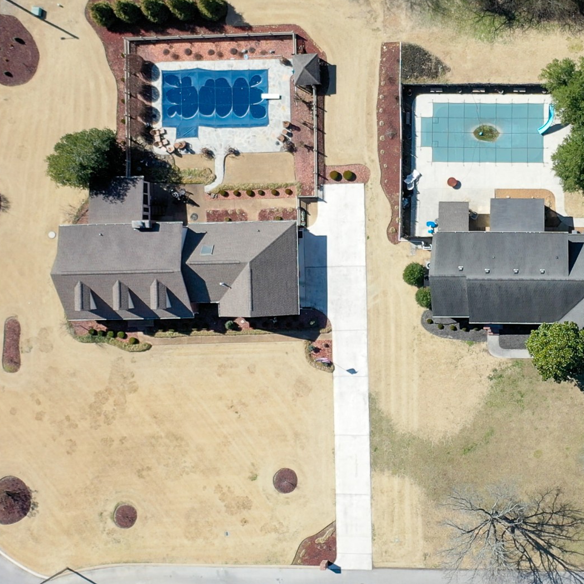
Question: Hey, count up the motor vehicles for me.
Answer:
0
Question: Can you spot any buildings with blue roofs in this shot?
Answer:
No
